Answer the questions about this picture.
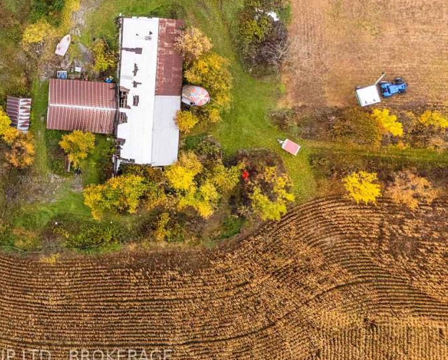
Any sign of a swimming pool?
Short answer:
No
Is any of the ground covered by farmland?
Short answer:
Yes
